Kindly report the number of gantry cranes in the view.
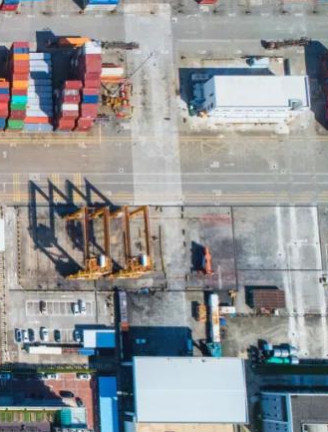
2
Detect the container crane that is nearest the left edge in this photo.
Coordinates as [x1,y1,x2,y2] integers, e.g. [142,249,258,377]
[60,201,111,274]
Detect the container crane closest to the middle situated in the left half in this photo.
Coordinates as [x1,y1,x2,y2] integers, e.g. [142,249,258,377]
[100,201,155,274]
